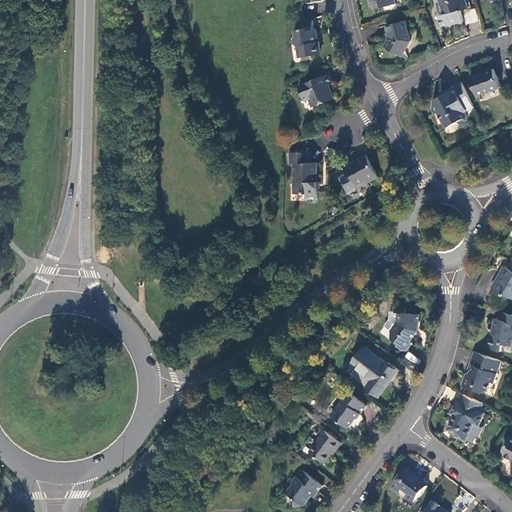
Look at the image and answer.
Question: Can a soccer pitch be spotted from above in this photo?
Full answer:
No, there appears to be no soccer pitch in this shot.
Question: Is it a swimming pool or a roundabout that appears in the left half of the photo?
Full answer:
What appears in the left half of the photo is a roundabout.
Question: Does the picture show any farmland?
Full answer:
No, farmland can't be seen anywhere here.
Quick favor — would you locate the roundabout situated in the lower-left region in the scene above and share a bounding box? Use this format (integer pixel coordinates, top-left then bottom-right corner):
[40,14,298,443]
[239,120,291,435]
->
[0,290,161,485]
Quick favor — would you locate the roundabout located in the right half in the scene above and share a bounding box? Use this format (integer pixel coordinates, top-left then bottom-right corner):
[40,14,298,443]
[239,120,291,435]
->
[396,182,487,274]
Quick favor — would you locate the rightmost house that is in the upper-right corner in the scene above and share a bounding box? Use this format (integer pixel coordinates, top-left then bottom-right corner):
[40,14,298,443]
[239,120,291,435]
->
[467,68,498,100]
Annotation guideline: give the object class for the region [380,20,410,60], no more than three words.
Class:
house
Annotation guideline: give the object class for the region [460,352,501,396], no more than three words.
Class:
house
